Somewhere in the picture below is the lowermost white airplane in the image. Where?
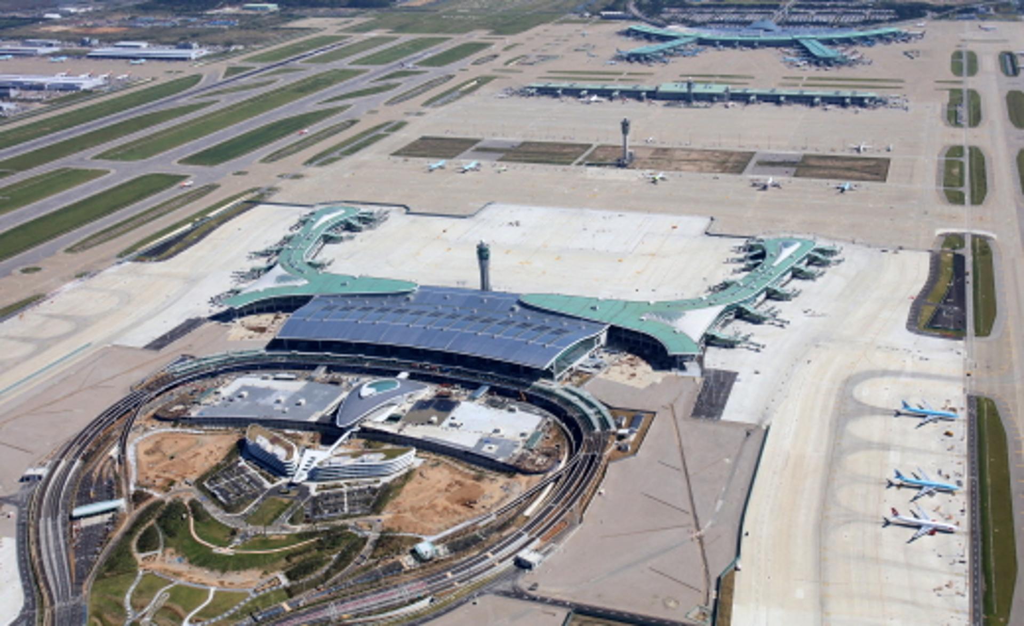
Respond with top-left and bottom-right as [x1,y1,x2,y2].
[885,500,961,539]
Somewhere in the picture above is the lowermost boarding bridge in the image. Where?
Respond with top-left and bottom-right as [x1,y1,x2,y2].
[707,330,758,351]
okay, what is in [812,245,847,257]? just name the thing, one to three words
jet bridge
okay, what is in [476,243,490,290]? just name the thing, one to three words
building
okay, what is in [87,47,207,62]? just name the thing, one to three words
building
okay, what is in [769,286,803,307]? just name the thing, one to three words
jet bridge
